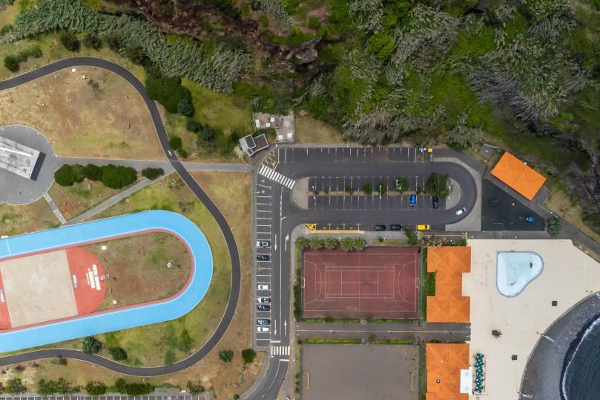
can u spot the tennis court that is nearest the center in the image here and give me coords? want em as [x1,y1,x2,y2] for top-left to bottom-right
[301,246,420,318]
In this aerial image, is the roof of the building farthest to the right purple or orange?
orange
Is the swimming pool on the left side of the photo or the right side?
right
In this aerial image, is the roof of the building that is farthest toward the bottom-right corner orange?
Yes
